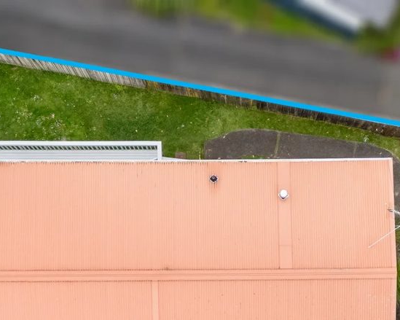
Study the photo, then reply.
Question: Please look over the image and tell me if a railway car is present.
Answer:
No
